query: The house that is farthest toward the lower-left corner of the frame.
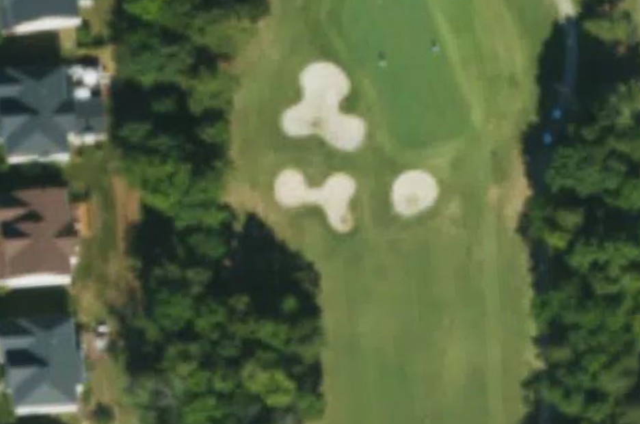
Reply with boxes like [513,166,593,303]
[0,318,89,413]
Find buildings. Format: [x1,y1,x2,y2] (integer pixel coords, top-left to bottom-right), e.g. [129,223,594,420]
[0,188,91,283]
[0,0,97,37]
[0,66,107,164]
[0,318,89,413]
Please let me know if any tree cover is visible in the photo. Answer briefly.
Yes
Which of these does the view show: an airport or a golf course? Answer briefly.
golf course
